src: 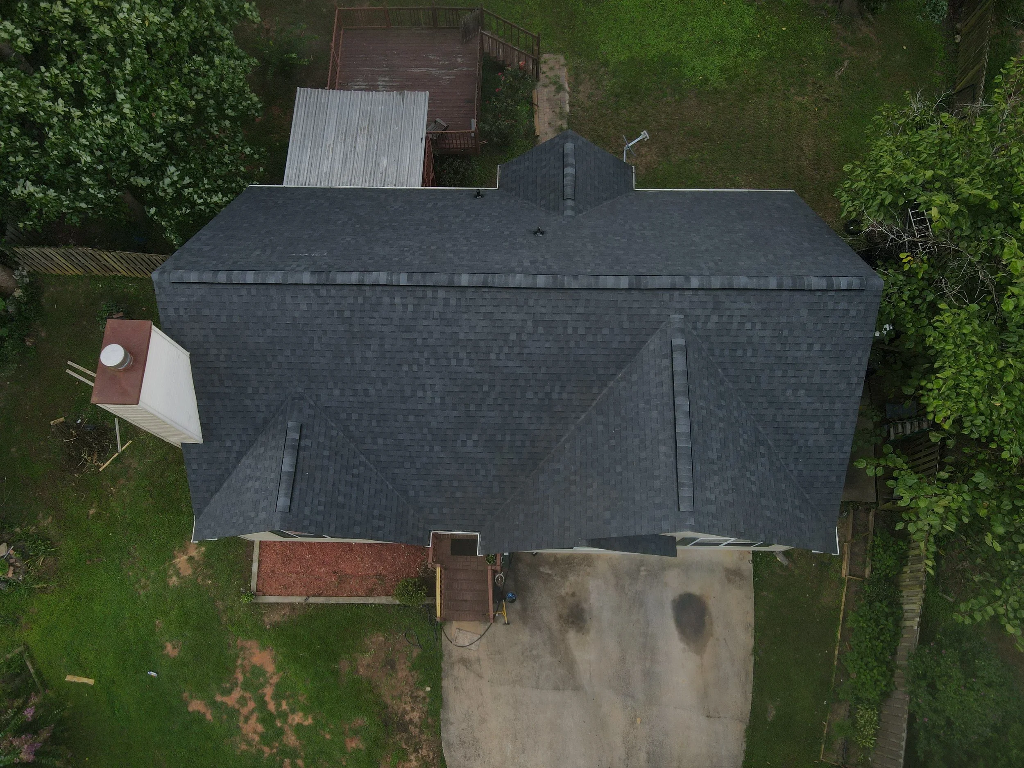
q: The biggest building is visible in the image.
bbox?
[89,130,884,557]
